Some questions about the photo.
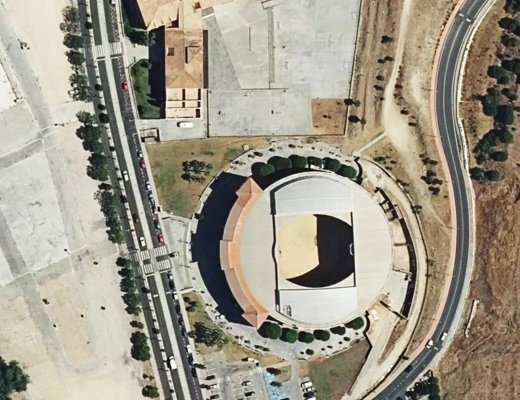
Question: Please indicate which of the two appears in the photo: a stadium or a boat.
stadium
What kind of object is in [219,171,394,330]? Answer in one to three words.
stadium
